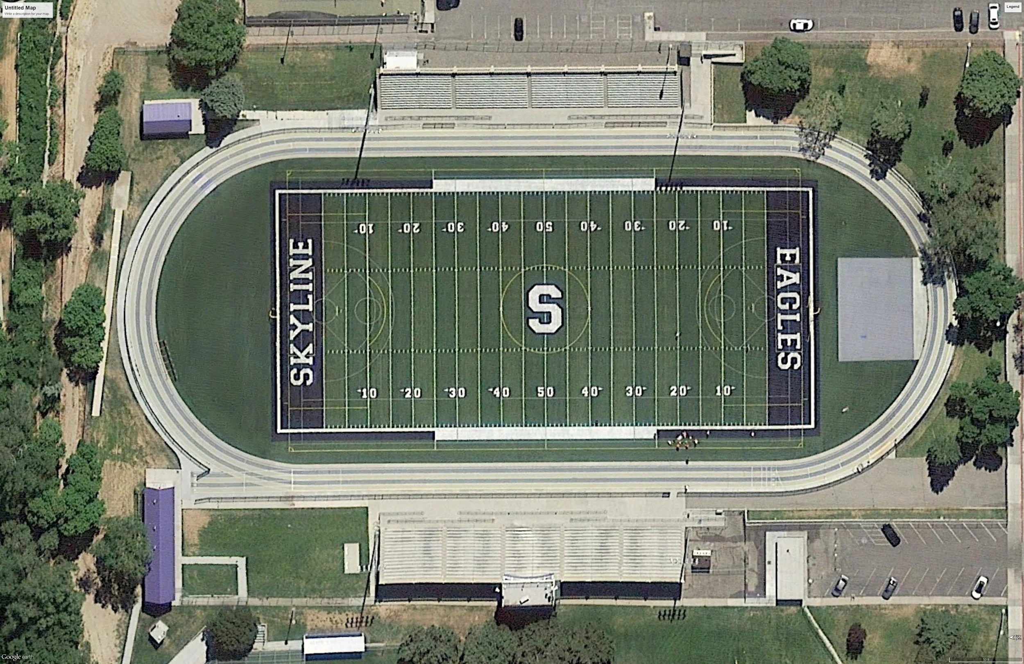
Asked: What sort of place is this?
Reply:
sports ground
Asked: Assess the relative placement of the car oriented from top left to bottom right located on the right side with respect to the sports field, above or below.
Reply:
below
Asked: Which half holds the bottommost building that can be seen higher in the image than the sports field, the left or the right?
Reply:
left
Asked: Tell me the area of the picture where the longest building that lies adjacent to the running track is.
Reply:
bottom left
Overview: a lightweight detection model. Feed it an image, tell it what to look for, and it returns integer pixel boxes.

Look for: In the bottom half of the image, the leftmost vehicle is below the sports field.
[831,575,849,599]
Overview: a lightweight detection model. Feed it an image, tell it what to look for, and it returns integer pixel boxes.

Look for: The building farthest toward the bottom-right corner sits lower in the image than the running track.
[776,533,805,601]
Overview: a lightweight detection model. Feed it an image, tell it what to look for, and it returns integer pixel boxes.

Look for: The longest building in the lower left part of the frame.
[143,484,176,605]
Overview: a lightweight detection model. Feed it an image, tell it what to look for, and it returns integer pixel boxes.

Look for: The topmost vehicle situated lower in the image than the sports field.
[881,525,901,549]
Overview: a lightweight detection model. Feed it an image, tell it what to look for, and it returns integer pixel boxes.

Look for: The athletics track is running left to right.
[125,122,959,494]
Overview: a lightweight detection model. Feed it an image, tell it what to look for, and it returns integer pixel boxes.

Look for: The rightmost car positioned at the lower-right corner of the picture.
[971,577,989,601]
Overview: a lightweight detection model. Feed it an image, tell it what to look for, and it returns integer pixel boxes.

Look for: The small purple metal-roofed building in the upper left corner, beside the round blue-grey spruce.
[143,100,192,134]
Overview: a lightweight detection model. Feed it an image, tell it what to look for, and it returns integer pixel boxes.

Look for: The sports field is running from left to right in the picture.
[157,155,919,462]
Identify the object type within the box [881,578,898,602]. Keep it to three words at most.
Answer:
car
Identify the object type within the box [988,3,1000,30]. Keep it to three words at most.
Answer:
vehicle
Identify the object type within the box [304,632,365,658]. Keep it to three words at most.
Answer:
shed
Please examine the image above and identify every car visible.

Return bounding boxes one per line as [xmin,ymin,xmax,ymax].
[513,17,524,42]
[436,0,460,8]
[881,578,898,602]
[971,577,989,601]
[790,20,813,33]
[969,9,980,35]
[953,7,964,33]
[881,525,901,549]
[988,3,1000,30]
[831,575,849,599]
